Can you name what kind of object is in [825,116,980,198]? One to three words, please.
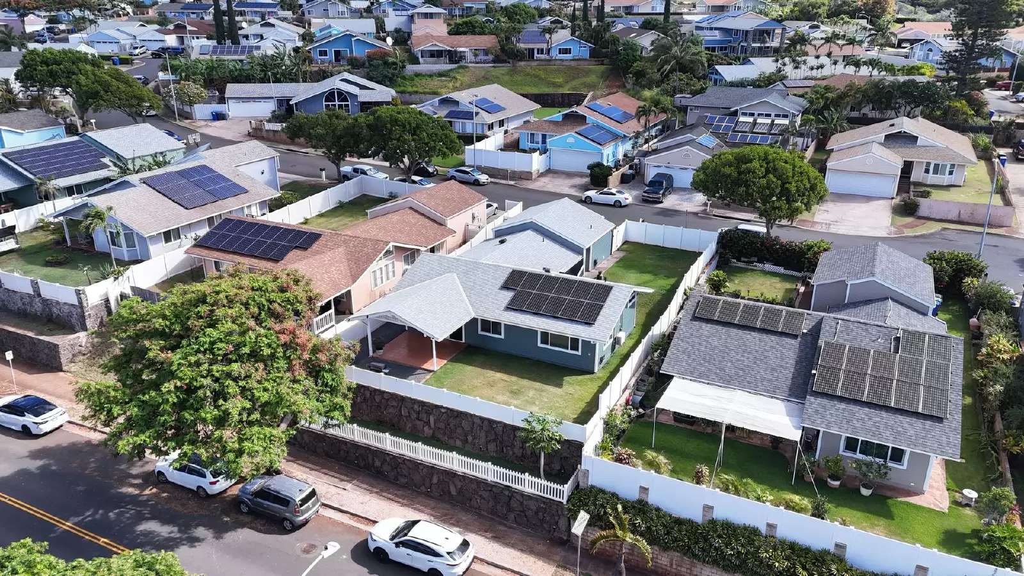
house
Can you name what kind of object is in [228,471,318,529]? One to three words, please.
car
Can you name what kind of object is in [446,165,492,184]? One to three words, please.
car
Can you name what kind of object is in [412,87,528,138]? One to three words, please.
house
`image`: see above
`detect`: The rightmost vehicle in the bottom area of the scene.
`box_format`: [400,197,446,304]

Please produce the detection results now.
[365,515,477,576]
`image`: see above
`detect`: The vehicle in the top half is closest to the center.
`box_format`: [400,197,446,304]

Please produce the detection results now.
[475,191,502,211]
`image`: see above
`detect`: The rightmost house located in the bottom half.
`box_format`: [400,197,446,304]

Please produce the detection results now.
[658,240,965,498]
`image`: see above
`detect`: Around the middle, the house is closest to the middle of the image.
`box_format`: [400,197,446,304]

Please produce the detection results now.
[344,197,661,374]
